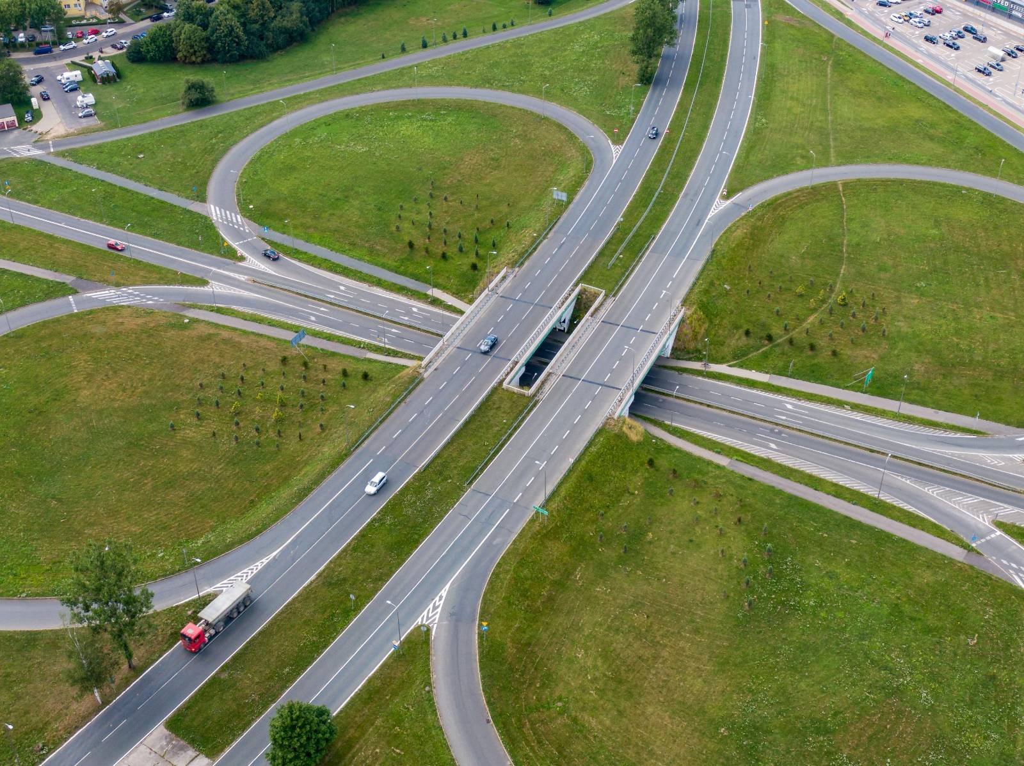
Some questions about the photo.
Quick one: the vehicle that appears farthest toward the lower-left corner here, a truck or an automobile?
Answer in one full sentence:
The vehicle that appears farthest toward the lower-left corner appears to be a truck.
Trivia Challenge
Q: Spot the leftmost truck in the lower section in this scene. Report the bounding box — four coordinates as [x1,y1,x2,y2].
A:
[180,583,250,651]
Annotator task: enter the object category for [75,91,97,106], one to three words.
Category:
camper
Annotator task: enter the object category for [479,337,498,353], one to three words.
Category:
car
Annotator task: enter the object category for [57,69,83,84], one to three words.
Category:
camper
